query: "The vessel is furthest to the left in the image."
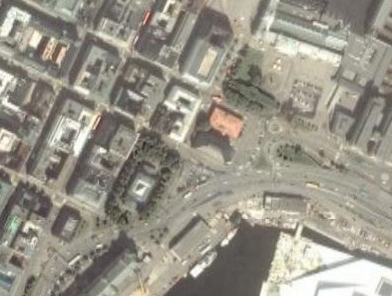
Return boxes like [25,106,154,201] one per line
[188,253,216,279]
